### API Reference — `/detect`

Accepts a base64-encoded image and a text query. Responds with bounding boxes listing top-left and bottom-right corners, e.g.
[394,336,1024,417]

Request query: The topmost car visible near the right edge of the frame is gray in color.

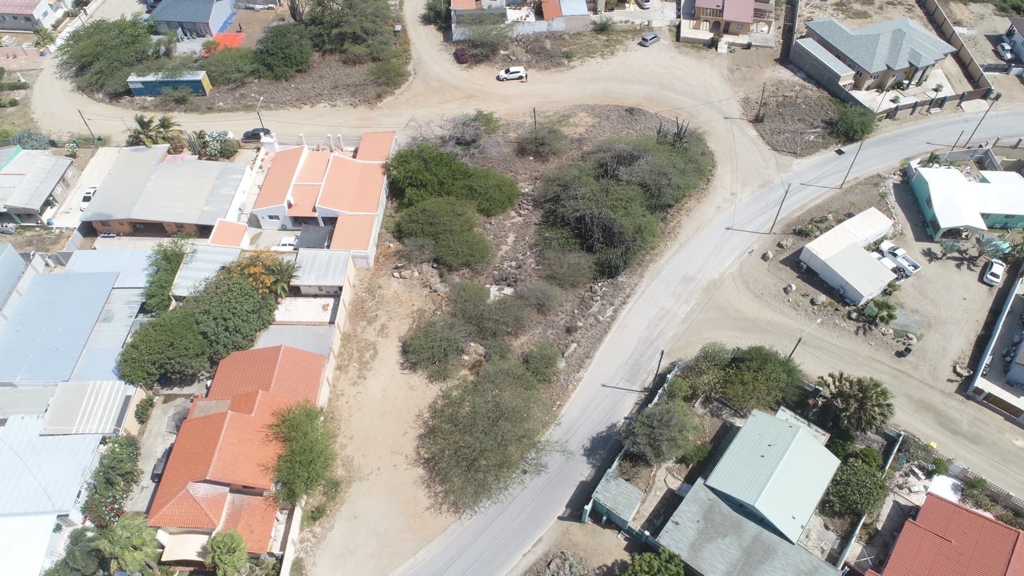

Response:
[996,43,1015,61]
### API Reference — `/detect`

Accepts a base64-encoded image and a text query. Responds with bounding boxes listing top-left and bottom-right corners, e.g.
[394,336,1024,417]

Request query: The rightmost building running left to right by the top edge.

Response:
[806,17,956,91]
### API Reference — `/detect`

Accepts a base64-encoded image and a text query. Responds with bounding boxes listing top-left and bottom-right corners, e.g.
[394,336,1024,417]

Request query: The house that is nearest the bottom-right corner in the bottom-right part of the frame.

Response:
[880,492,1024,576]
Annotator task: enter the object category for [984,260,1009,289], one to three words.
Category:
car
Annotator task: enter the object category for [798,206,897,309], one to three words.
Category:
building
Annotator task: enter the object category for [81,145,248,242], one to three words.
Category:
house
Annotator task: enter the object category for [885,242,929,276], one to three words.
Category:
truck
